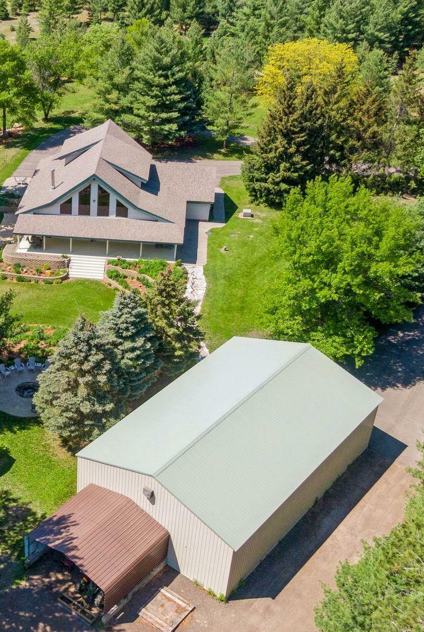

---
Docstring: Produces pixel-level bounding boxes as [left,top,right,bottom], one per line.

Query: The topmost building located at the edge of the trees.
[13,118,219,279]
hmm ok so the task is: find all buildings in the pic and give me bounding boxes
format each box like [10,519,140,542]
[13,118,219,279]
[75,335,384,600]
